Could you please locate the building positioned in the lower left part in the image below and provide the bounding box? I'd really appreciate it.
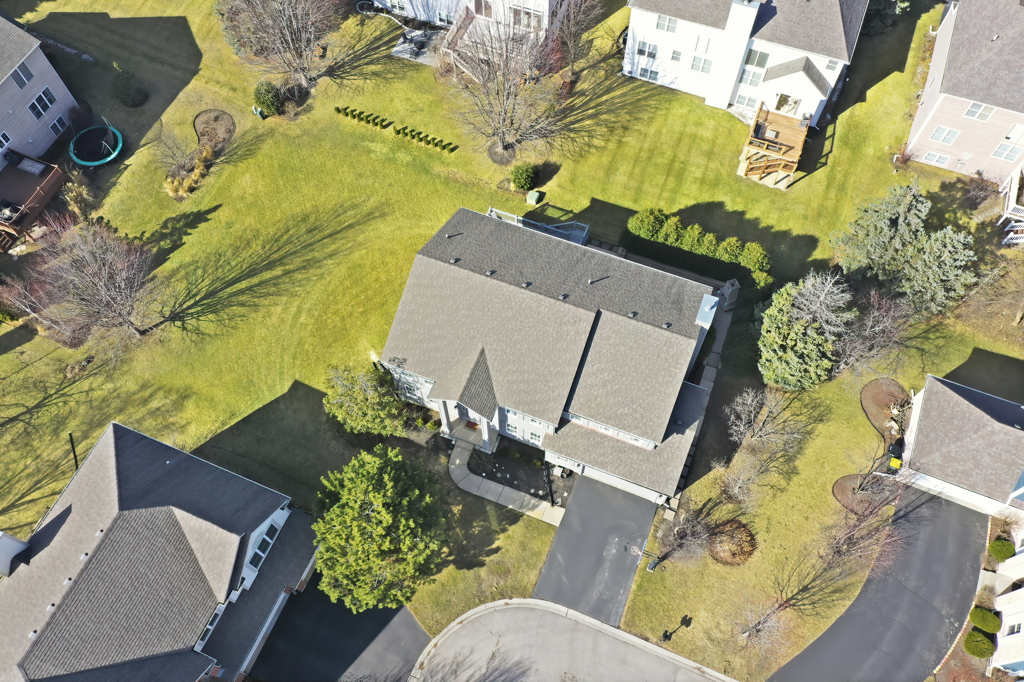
[0,420,332,682]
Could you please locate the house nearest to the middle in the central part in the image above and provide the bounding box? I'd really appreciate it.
[378,208,720,514]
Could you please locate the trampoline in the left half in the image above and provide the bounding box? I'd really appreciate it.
[57,110,121,164]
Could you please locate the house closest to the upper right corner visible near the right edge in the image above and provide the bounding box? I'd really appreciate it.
[901,0,1024,182]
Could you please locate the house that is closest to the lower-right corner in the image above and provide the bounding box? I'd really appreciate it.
[866,373,1024,682]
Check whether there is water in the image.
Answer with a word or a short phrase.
No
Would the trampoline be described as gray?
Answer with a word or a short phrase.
No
